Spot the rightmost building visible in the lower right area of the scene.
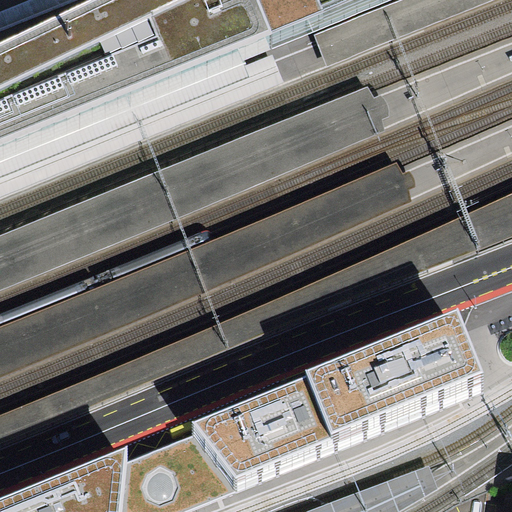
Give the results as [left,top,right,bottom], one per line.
[306,309,482,456]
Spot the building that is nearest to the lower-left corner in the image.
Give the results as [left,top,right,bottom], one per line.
[0,446,129,512]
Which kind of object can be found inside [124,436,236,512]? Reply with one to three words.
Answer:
building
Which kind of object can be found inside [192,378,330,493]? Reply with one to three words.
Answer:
building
